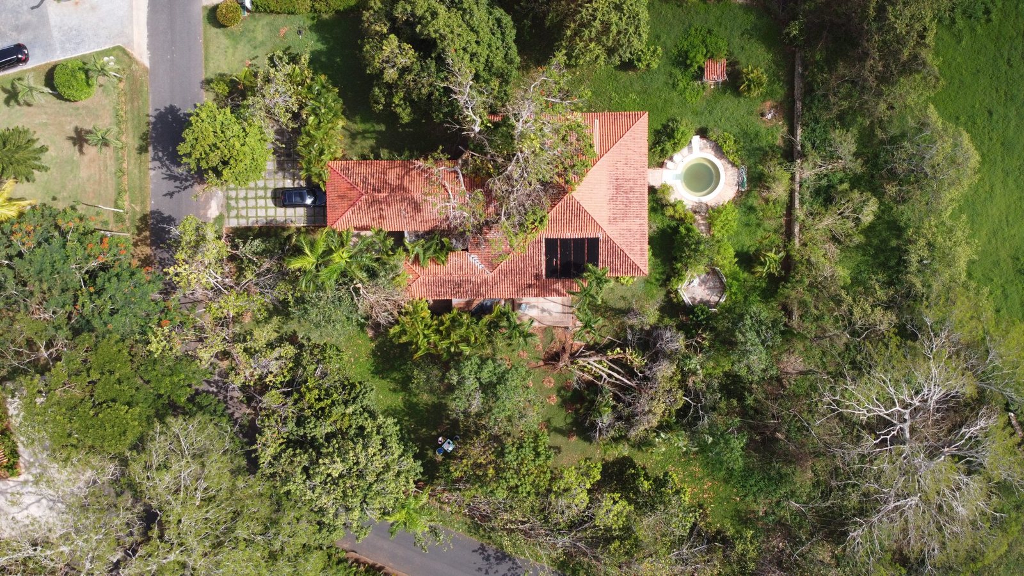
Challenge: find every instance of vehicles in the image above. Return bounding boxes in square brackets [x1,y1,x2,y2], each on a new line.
[282,187,328,211]
[0,43,37,77]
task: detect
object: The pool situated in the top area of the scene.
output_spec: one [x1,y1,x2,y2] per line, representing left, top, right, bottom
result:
[662,133,727,205]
